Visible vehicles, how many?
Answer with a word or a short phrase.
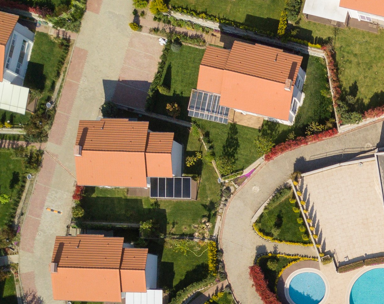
none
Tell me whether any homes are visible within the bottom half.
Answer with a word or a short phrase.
Yes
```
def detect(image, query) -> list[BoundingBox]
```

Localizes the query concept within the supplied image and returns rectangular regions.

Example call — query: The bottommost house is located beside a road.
[47,233,162,304]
